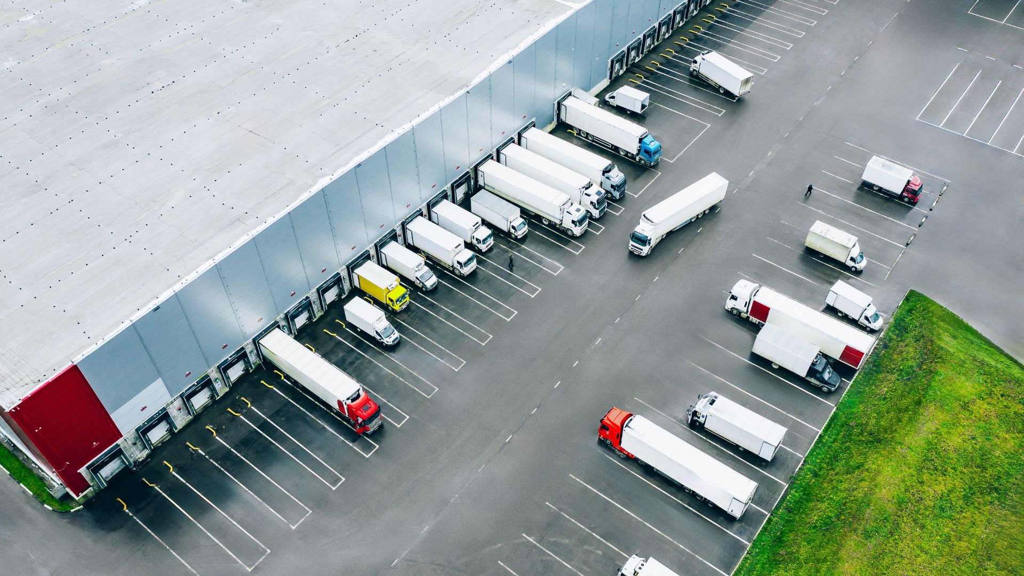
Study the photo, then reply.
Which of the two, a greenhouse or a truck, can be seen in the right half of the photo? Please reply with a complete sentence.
Looking in the right half of the photo, you will find a truck.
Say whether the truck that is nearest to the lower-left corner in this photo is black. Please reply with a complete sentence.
No, the color of the truck that is nearest to the lower-left corner is white.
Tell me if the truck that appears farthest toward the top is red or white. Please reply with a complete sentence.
In this view, the truck that appears farthest toward the top is white.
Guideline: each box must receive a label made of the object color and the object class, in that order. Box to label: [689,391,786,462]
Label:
white truck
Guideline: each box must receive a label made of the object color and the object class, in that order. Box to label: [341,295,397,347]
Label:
white van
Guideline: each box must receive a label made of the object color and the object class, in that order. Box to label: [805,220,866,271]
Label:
white van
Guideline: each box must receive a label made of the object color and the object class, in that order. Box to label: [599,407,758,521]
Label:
white truck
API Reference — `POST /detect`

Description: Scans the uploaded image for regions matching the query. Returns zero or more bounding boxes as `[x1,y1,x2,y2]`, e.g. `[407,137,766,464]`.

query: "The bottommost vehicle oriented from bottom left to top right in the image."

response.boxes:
[627,167,723,255]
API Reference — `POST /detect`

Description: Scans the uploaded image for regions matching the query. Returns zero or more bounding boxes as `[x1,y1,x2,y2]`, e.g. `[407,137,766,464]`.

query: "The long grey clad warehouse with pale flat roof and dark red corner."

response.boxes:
[0,0,718,510]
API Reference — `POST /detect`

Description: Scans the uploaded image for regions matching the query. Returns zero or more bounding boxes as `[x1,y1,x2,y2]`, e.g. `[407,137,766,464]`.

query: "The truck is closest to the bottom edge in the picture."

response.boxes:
[611,547,679,576]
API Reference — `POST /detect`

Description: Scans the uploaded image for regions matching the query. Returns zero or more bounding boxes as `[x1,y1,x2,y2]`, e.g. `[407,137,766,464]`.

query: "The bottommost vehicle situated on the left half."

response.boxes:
[259,329,384,437]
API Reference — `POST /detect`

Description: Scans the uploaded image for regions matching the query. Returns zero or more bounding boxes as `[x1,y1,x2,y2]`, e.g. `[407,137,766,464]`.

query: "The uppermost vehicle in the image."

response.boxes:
[686,54,748,99]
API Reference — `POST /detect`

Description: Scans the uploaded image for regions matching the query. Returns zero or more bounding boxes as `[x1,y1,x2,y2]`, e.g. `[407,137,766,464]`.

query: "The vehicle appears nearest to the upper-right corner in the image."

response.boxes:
[861,156,927,204]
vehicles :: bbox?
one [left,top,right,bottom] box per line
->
[611,547,679,576]
[805,220,866,271]
[686,54,748,99]
[355,261,410,312]
[824,280,883,330]
[470,188,529,238]
[341,295,397,347]
[689,391,786,462]
[482,157,592,235]
[409,216,478,276]
[627,167,723,255]
[605,85,649,117]
[561,97,664,165]
[382,242,435,290]
[753,322,842,394]
[599,407,758,521]
[725,282,875,374]
[523,126,629,199]
[433,198,494,251]
[259,329,384,437]
[861,156,927,204]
